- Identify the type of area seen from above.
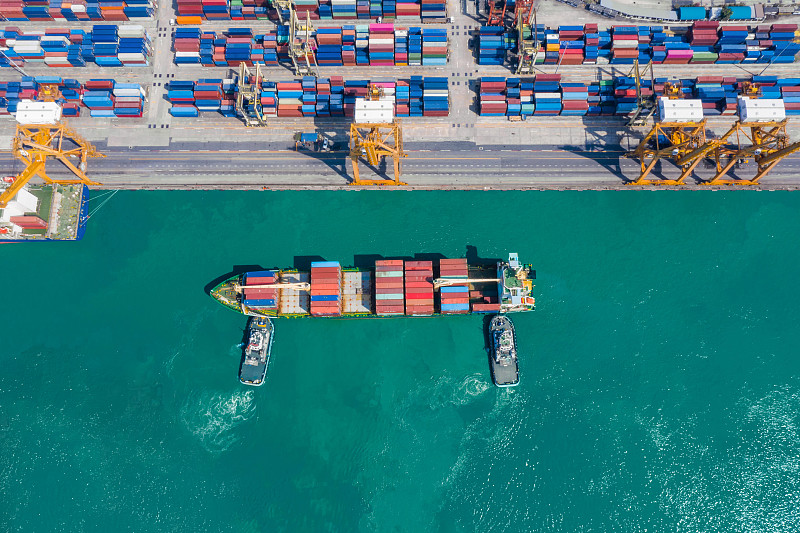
port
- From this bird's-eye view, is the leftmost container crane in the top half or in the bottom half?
top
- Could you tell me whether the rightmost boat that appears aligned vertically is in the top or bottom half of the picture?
bottom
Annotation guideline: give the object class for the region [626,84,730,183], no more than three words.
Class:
container crane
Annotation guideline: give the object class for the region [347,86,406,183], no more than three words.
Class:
container crane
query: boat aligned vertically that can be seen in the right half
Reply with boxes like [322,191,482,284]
[490,315,521,388]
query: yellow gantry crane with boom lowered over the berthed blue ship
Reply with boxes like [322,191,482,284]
[0,88,104,208]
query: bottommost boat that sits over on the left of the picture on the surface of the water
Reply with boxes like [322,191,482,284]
[238,317,273,388]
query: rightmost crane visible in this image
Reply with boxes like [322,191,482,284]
[704,84,800,183]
